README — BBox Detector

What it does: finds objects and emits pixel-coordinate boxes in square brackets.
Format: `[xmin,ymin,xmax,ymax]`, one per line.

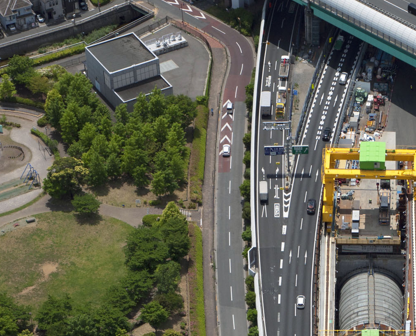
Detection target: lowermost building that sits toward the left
[90,31,173,115]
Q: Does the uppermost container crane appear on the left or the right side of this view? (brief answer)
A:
right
